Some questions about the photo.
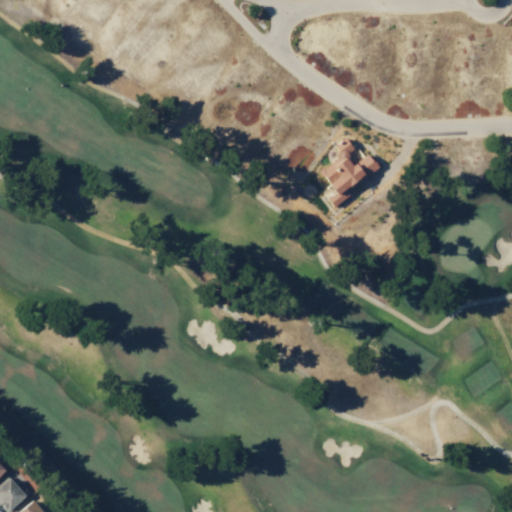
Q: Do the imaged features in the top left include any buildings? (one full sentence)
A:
No, no building is visible in the top left.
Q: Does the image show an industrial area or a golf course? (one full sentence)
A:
The picture captures a golf course.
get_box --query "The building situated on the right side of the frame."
[324,138,381,206]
